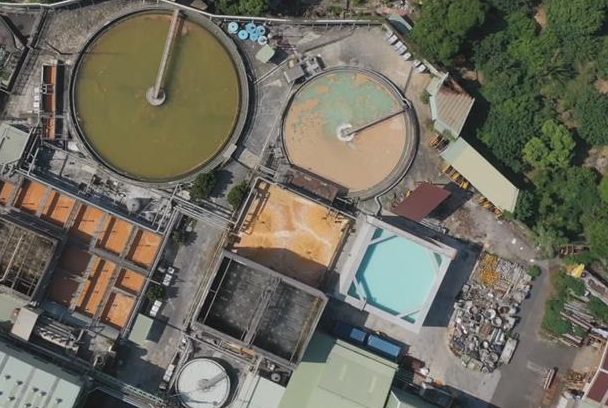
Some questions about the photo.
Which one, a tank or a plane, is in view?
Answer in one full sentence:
Visible in the photo is a tank.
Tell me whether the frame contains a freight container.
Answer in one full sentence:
Yes, there's a freight container here.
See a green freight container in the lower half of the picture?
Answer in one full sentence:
No, no green freight container can be made out in the lower half of the picture.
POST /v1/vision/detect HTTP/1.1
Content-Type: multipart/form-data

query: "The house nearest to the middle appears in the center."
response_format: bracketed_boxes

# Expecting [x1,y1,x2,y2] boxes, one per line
[284,168,338,202]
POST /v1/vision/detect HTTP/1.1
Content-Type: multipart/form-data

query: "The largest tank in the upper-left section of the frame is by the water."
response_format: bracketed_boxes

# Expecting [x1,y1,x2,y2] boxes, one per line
[70,5,249,185]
